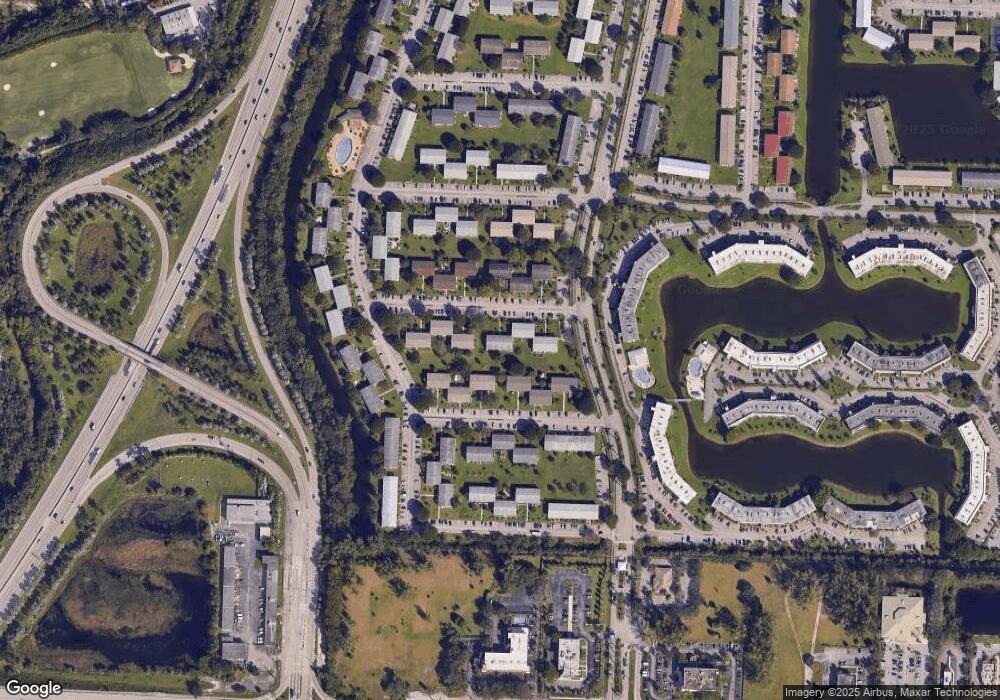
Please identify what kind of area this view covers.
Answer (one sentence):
The area seen from above is a residential area.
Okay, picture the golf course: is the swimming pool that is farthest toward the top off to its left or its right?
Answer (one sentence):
The golf course has the swimming pool that is farthest toward the top on its right side.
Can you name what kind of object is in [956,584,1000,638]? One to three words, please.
pond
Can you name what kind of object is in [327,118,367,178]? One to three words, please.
swimming pool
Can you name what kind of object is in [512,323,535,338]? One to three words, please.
house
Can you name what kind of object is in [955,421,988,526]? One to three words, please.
building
